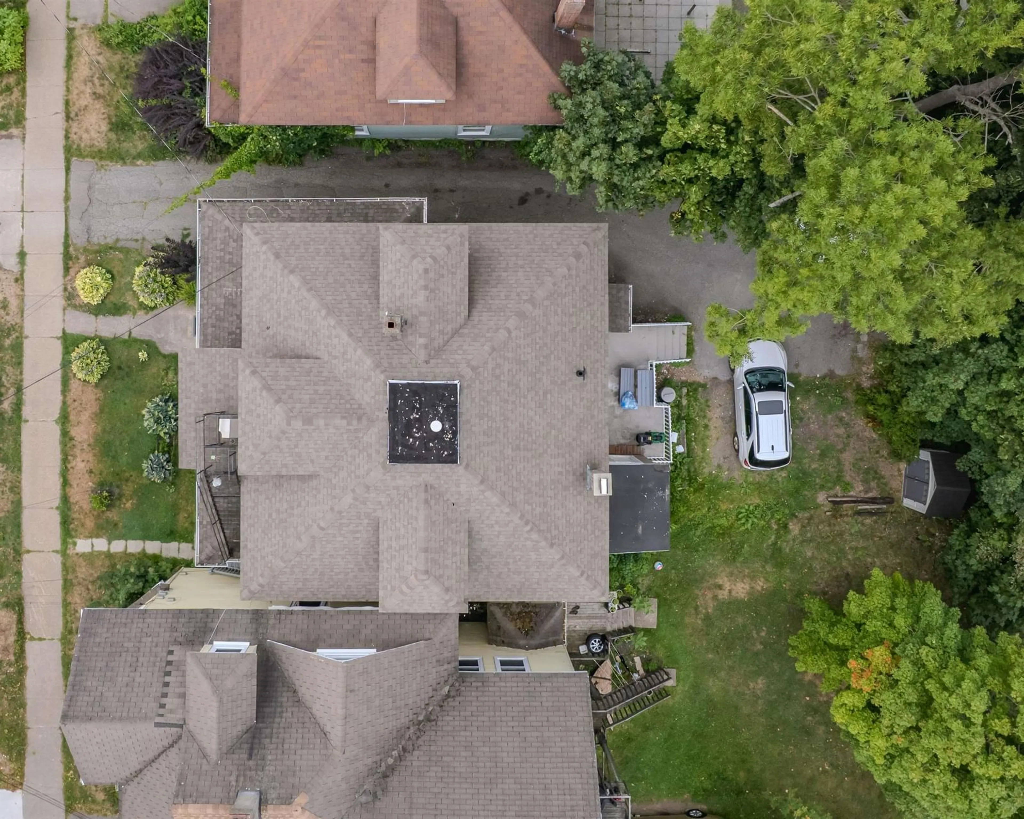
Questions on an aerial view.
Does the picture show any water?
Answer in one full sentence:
No, the scene doesn't show any water.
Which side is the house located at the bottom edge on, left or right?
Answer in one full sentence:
You can find the house located at the bottom edge on the left side of the picture.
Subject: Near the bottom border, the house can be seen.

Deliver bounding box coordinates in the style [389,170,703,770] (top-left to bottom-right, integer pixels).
[61,573,604,819]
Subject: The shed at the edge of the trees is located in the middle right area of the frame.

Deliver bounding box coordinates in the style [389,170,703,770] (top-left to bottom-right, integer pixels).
[899,450,973,519]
